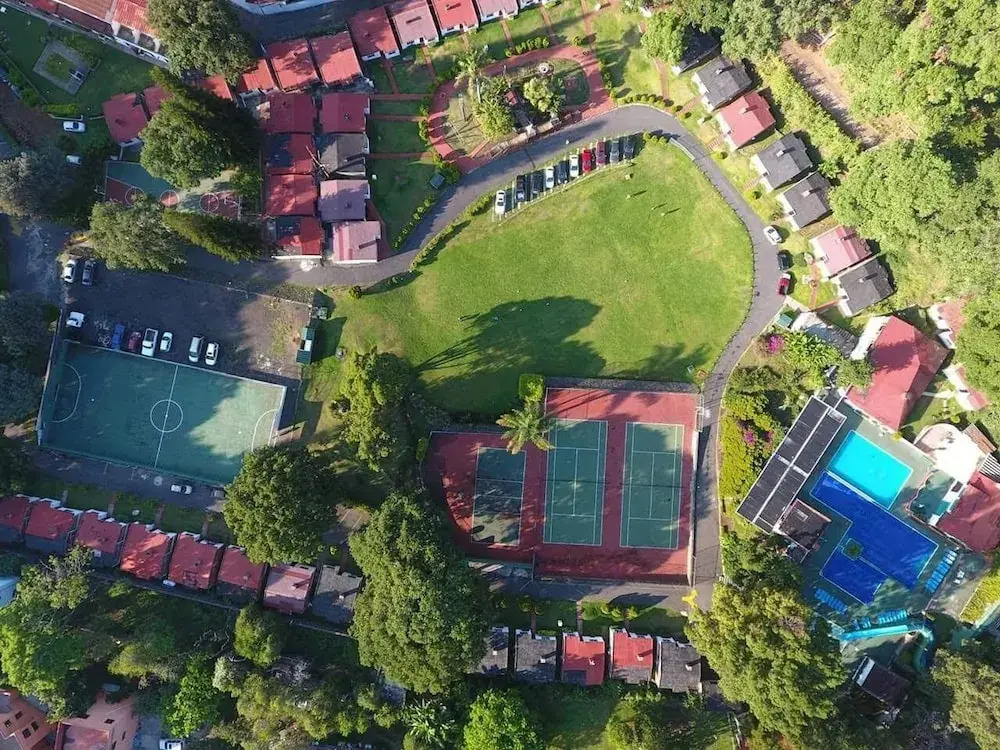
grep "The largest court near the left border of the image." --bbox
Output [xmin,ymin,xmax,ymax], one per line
[42,344,285,485]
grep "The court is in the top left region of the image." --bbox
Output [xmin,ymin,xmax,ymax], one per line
[103,160,242,216]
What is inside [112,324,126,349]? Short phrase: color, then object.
blue vehicle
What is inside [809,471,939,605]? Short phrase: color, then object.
blue swimming pool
